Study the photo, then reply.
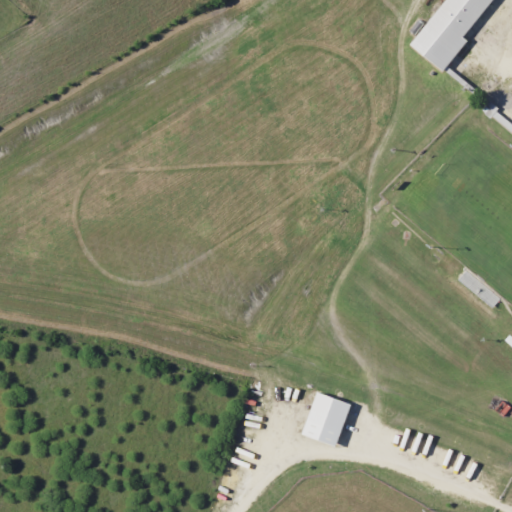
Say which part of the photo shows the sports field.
right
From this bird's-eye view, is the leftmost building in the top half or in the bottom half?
bottom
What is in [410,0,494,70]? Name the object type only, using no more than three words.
barn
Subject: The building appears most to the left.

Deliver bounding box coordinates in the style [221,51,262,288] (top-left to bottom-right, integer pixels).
[302,393,352,447]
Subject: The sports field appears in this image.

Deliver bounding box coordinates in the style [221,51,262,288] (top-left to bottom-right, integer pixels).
[387,104,512,313]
